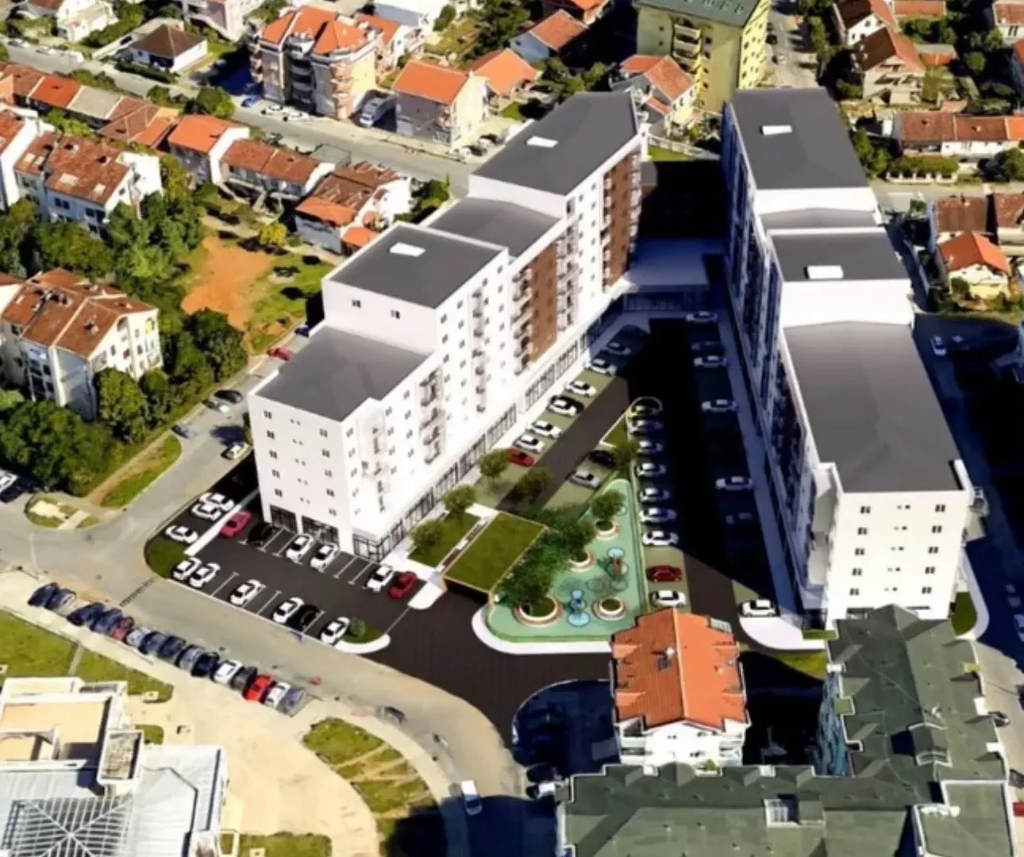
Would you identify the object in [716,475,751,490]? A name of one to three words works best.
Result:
car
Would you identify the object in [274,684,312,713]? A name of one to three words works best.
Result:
car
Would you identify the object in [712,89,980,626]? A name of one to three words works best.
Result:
building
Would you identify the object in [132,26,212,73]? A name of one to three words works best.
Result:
house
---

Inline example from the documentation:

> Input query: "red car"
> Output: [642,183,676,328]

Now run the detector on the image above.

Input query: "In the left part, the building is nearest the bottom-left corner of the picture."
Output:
[0,680,229,857]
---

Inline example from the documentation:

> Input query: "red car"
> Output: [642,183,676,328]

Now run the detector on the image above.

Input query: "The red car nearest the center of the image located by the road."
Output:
[504,448,537,467]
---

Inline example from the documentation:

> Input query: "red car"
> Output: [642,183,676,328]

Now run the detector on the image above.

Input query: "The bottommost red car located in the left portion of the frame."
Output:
[241,674,274,700]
